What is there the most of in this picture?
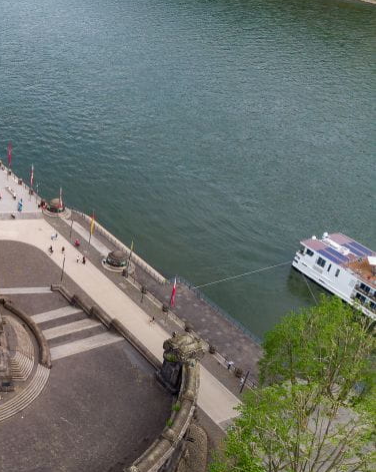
water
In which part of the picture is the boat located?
right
